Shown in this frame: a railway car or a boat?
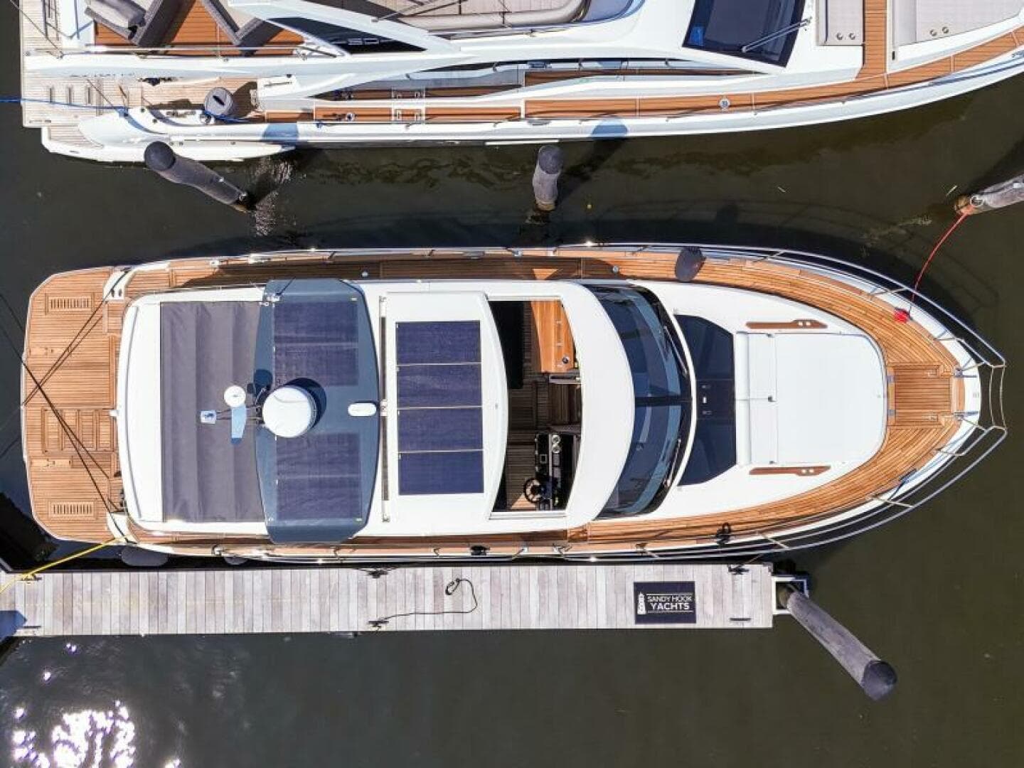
boat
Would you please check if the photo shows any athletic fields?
No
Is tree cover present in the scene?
No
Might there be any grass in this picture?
No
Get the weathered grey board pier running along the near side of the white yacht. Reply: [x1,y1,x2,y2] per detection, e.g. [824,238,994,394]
[0,489,810,651]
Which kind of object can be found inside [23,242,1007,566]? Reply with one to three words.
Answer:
boat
